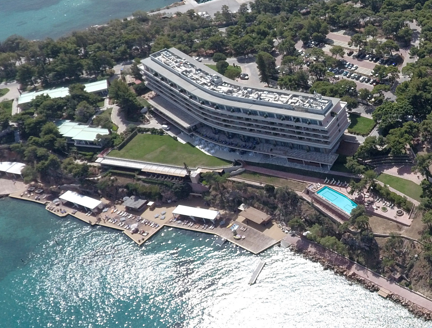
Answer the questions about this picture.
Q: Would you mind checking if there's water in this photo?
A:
Yes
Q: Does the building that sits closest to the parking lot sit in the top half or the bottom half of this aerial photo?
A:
top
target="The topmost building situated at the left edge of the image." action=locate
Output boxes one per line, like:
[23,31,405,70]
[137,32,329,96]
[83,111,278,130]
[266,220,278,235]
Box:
[16,78,109,109]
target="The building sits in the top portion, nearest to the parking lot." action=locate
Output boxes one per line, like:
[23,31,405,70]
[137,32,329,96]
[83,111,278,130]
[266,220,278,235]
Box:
[137,48,350,169]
